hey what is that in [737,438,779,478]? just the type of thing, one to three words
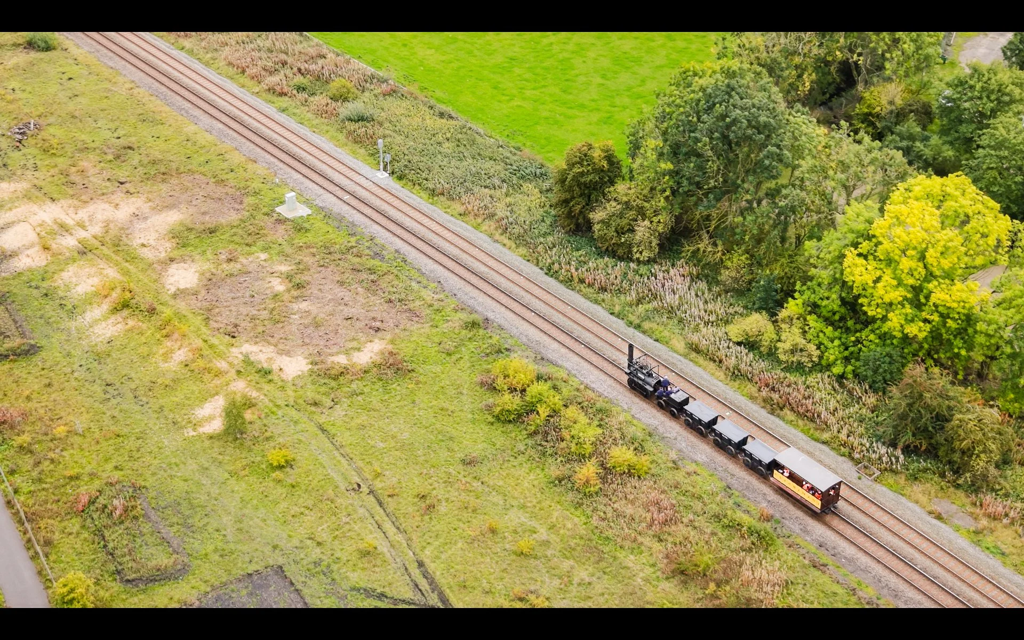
rail car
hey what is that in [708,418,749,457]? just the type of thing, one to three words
rail car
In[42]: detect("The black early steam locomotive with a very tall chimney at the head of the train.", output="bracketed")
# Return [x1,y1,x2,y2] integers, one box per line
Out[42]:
[620,344,665,401]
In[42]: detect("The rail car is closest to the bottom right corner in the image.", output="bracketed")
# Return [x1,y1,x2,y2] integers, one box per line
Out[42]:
[769,447,842,515]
